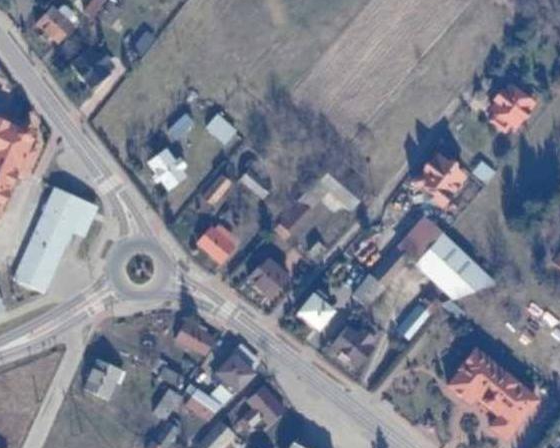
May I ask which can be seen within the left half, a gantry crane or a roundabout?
roundabout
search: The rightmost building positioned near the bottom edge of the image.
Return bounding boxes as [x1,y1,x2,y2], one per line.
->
[447,349,540,443]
